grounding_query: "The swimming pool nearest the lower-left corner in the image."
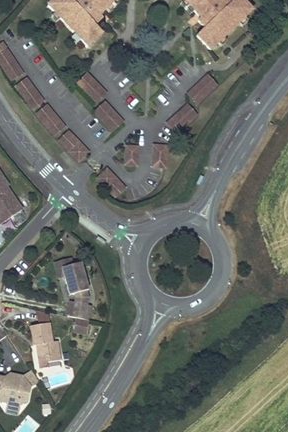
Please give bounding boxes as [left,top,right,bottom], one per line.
[10,416,40,432]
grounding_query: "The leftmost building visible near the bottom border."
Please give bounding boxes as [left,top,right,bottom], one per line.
[0,370,38,416]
